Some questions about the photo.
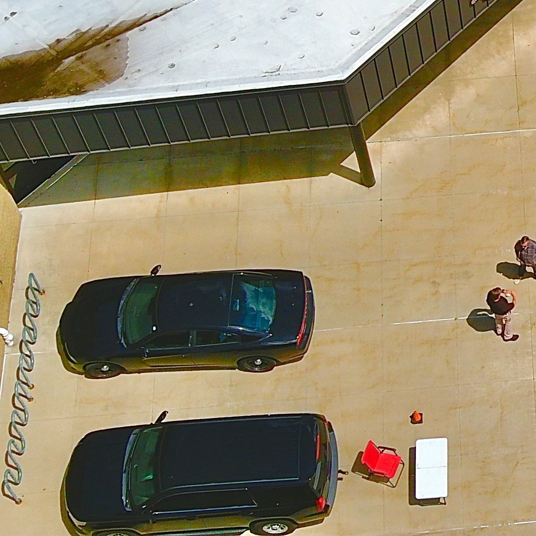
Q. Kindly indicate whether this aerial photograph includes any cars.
Yes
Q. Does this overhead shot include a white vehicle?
No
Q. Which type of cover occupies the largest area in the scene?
paved ground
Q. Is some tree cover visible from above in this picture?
No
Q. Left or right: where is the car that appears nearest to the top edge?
left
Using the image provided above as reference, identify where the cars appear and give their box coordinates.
[58,259,314,378]
[62,404,358,536]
